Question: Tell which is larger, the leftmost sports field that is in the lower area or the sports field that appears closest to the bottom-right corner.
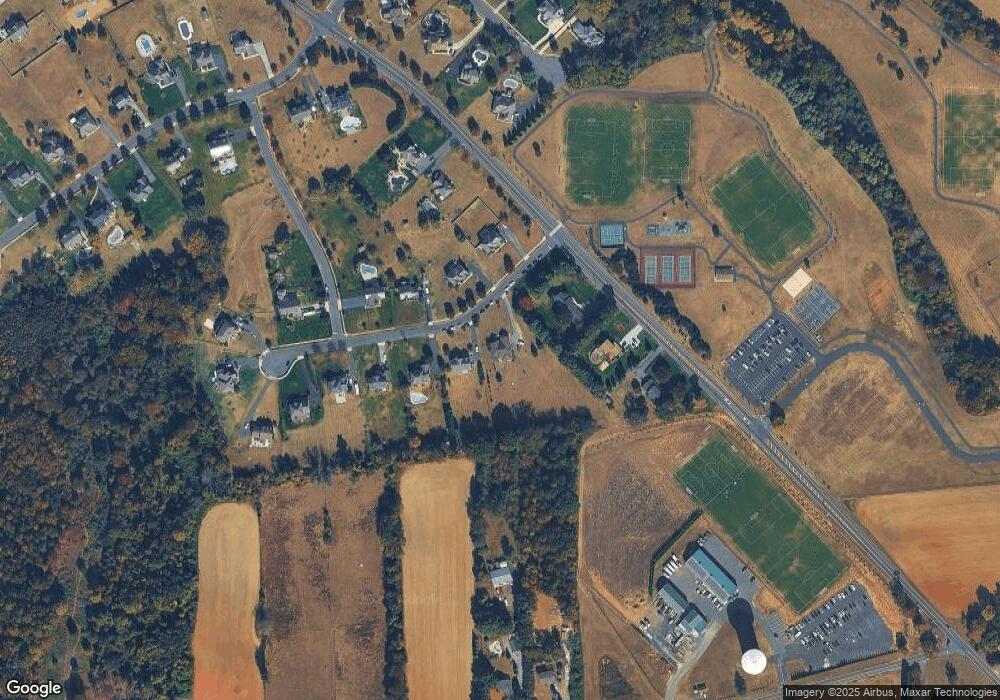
the sports field that appears closest to the bottom-right corner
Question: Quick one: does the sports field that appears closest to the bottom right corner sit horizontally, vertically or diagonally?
diagonally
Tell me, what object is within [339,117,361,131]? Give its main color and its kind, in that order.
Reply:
white swimming pool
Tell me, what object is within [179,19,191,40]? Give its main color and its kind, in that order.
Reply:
white swimming pool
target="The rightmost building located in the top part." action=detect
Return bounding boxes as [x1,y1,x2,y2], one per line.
[716,267,735,283]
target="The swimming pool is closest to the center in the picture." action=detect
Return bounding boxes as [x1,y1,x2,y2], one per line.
[409,391,428,404]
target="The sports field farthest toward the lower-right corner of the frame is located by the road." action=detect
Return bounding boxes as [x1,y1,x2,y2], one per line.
[702,462,848,615]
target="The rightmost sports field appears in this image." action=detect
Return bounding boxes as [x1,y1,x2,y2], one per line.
[939,89,1000,187]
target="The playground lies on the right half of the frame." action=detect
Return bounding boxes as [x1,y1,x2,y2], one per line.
[647,221,690,236]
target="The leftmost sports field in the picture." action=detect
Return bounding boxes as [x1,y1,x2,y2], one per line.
[562,100,637,210]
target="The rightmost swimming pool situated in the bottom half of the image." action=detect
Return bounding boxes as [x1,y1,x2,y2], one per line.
[489,640,504,653]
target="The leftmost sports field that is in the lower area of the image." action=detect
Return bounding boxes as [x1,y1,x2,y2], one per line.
[674,431,754,510]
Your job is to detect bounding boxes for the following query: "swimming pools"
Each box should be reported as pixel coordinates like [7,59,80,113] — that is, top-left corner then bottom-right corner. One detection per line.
[387,172,408,190]
[106,226,125,246]
[135,33,154,57]
[489,640,504,653]
[179,19,191,40]
[473,49,488,63]
[359,263,378,279]
[221,164,235,174]
[503,78,519,88]
[409,391,428,404]
[339,117,361,131]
